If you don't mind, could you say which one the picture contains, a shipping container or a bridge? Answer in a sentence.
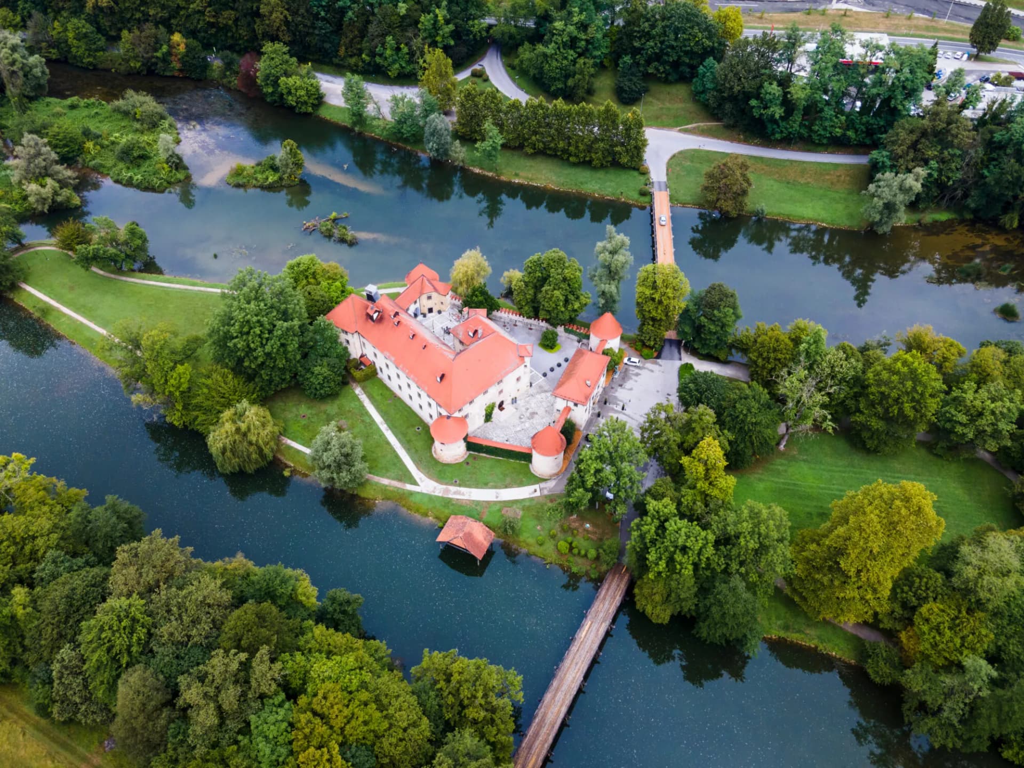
Visible in the photo is a bridge.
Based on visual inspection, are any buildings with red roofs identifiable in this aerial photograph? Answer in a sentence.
Yes, the image includes a building with a red roof.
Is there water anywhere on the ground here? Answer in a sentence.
Yes, the picture does contain water.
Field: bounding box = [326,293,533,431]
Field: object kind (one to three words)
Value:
building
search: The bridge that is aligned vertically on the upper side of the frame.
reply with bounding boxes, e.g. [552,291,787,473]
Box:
[651,189,682,339]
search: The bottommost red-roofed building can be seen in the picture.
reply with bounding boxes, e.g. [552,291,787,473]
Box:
[436,516,495,565]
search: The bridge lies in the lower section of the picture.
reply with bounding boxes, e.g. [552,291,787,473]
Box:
[510,564,631,768]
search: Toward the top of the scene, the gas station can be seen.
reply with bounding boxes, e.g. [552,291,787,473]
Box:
[800,33,887,71]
